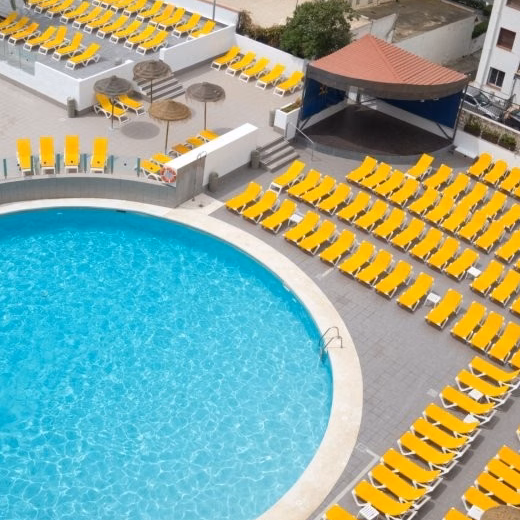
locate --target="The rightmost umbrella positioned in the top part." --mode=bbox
[187,81,229,130]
